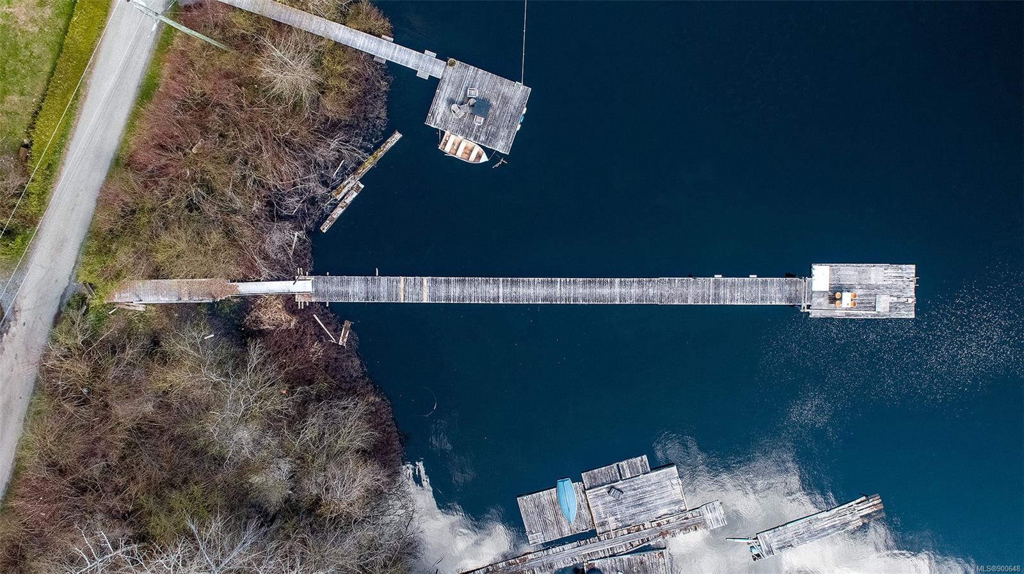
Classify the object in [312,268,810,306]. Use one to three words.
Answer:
pier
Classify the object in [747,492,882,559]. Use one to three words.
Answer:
pier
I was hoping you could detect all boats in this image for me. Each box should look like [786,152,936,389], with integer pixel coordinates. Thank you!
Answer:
[556,475,578,525]
[439,132,489,162]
